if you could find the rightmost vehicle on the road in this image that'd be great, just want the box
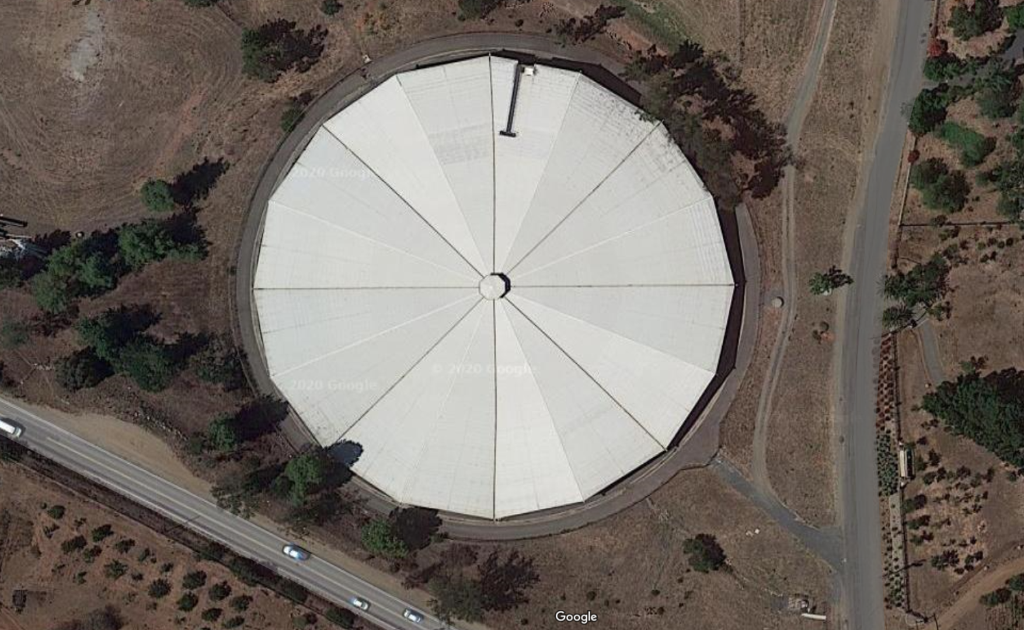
[403,608,423,622]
